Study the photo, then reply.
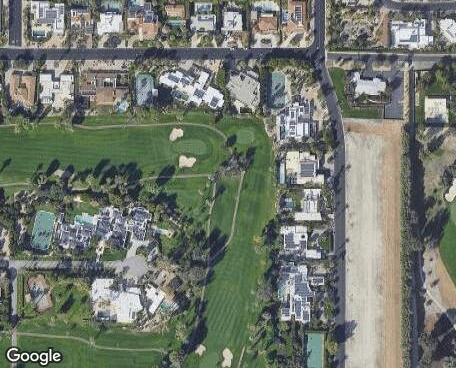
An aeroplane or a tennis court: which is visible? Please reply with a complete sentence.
Looking from above, you can make out a tennis court.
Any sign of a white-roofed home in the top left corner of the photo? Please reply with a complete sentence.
Yes, a white-roofed home can be seen in the top left corner of the photo.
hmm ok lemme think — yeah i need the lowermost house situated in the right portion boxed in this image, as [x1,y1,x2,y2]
[279,265,324,324]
